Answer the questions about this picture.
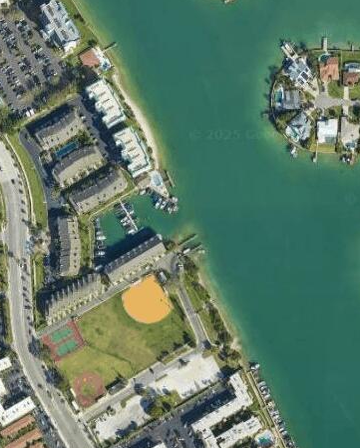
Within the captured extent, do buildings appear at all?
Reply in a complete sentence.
Yes, there's a building down there.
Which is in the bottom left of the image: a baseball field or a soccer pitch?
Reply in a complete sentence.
The feature located in the bottom left of the image is a baseball field.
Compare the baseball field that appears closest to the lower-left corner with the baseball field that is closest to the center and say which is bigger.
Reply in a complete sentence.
The baseball field that is closest to the center takes up more space than the baseball field that appears closest to the lower-left corner does.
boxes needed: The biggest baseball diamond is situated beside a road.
[116,274,188,347]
